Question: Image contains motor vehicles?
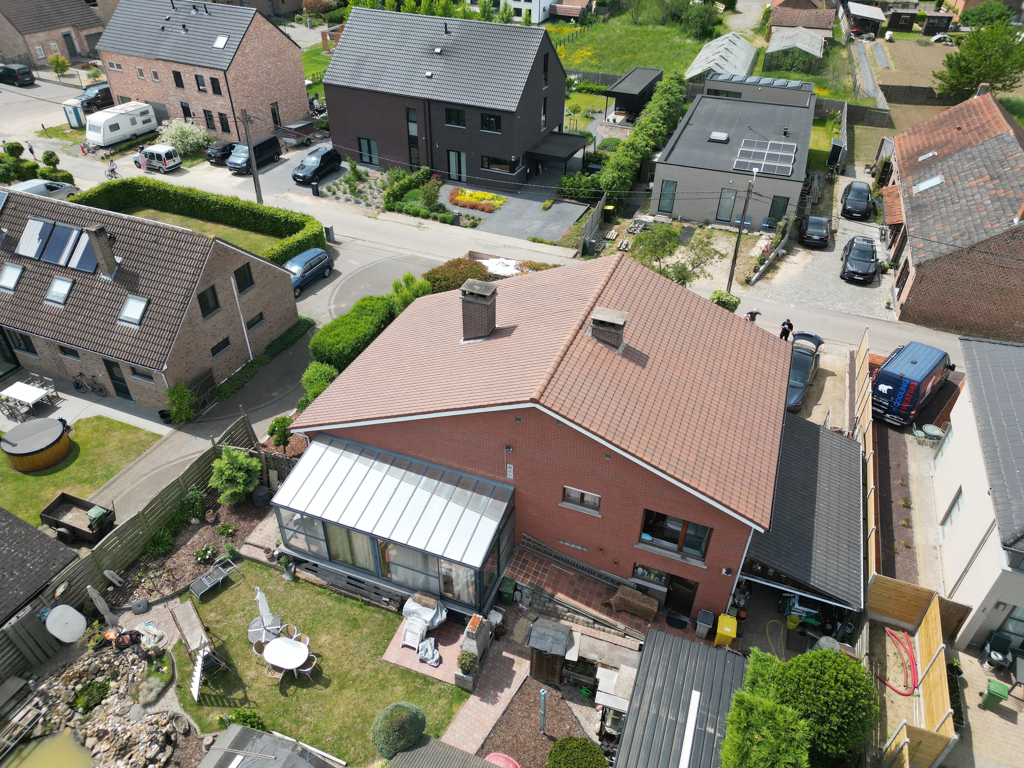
Yes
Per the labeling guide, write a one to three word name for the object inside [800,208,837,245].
car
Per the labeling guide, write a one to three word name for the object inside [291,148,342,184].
car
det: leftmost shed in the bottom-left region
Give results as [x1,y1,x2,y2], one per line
[0,508,96,666]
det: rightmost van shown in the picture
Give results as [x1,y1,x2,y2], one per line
[873,327,959,419]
